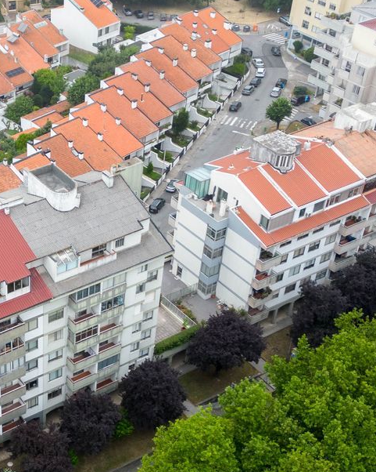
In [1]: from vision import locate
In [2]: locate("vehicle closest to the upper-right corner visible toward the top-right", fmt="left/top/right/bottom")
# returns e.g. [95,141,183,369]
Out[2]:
[275,15,295,29]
